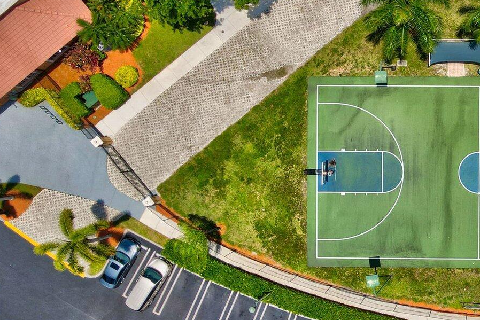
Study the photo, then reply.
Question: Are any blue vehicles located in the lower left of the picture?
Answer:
Yes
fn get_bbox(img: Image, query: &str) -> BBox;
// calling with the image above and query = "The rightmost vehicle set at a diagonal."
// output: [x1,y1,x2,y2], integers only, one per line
[123,255,174,315]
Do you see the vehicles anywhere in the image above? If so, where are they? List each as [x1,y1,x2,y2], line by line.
[99,234,142,290]
[123,255,174,315]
